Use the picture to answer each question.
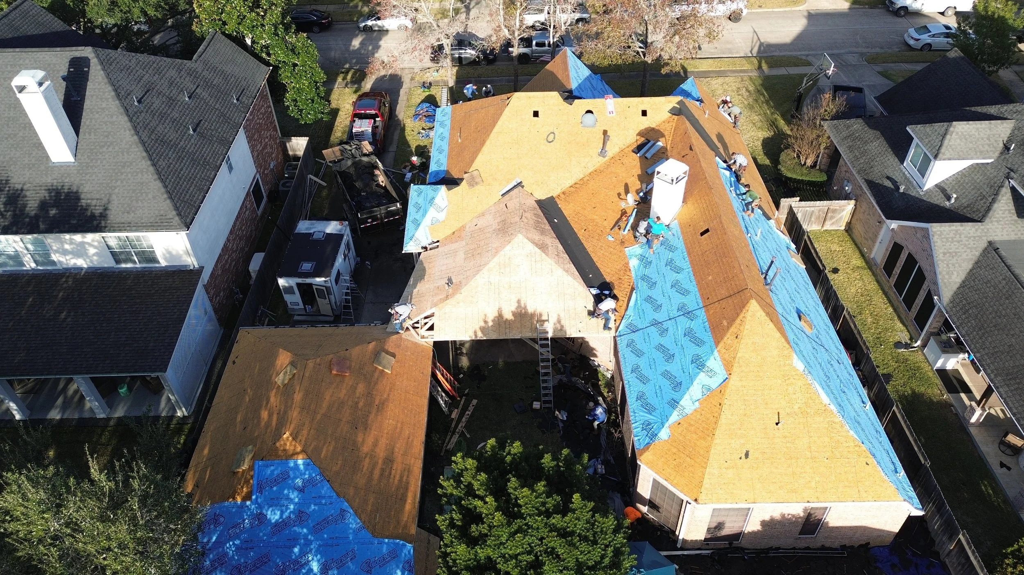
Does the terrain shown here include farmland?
No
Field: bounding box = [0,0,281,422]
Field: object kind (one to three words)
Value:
house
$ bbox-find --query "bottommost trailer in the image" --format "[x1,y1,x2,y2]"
[280,220,359,324]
